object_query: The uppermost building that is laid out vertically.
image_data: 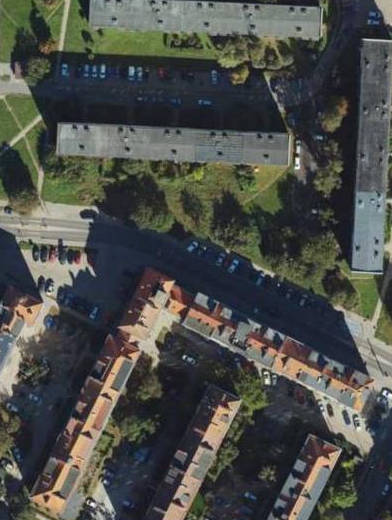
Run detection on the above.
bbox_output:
[351,40,392,274]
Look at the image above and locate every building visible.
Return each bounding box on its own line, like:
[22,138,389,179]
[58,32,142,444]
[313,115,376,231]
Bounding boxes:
[0,289,38,388]
[351,40,392,274]
[179,293,374,412]
[110,272,175,351]
[145,385,243,520]
[28,337,139,516]
[90,0,322,44]
[57,123,291,169]
[268,434,342,520]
